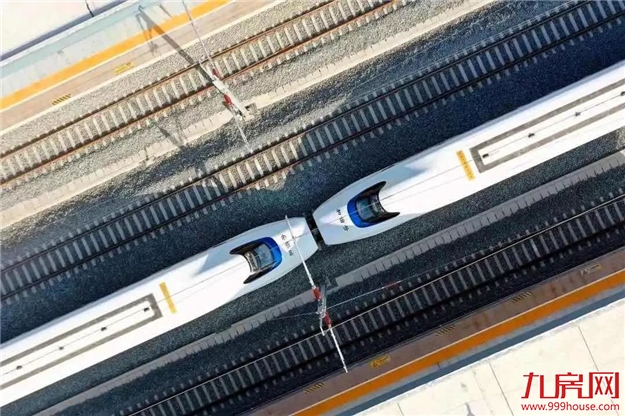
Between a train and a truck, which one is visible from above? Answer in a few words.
train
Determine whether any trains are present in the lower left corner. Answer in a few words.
Yes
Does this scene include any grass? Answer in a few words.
No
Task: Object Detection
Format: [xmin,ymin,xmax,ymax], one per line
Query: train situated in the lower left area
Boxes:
[0,215,320,404]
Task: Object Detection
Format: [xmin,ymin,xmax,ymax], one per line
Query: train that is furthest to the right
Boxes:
[312,59,625,245]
